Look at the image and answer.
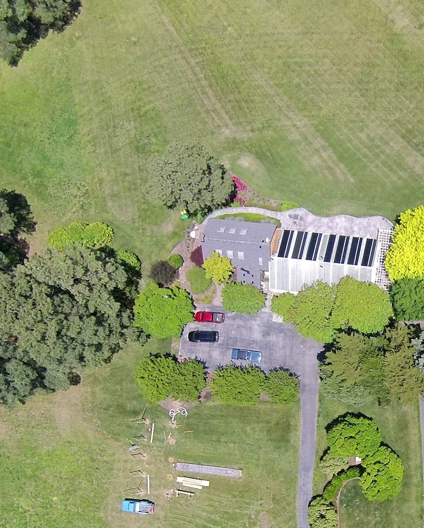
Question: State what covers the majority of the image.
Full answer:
The largest share of the image is taken up by grass.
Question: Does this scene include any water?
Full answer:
No, there is no water in the image.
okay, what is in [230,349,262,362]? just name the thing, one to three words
vehicle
